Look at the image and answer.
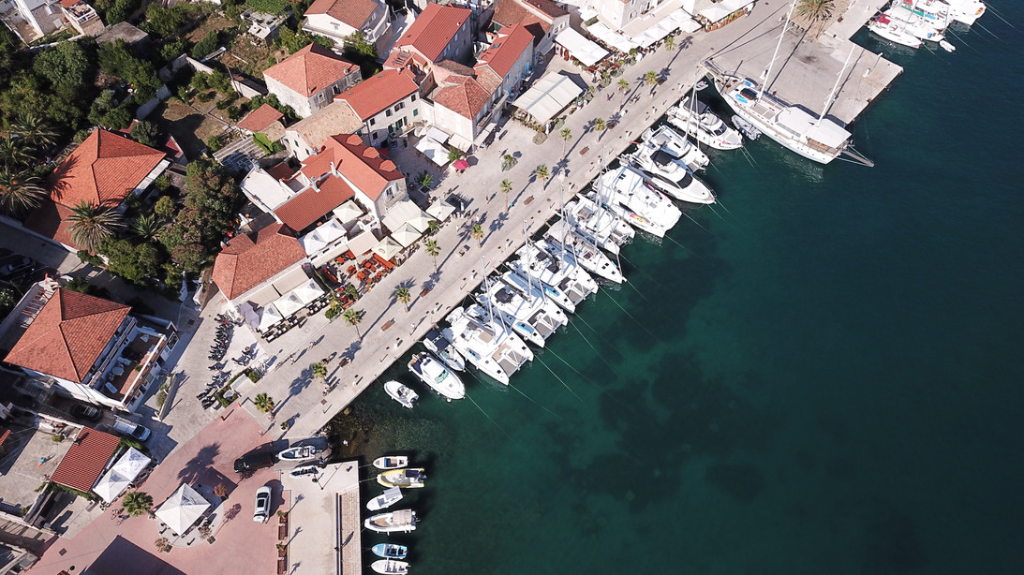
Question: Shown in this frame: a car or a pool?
car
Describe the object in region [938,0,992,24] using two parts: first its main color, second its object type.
white boat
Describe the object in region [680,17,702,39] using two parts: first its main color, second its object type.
white umbrella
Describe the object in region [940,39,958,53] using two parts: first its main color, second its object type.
white boat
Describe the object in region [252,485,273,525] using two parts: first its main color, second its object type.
white car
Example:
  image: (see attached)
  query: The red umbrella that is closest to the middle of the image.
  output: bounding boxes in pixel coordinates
[454,160,469,176]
